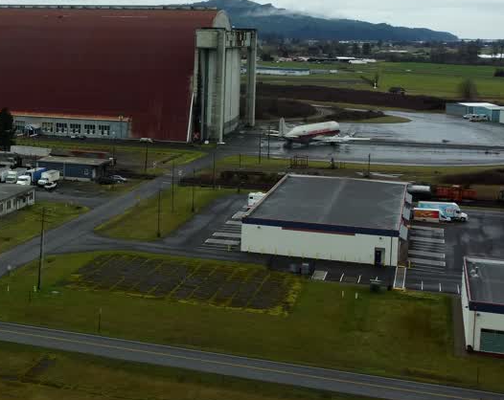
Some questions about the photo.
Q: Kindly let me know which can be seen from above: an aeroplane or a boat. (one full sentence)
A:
I can see an aeroplane in this picture.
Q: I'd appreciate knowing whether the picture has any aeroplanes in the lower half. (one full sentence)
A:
No, no aeroplane is visible in the lower half.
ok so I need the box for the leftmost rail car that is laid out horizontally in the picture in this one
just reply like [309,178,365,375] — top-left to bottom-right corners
[408,184,449,201]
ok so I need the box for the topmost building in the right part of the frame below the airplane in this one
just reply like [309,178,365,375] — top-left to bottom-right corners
[239,174,414,267]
